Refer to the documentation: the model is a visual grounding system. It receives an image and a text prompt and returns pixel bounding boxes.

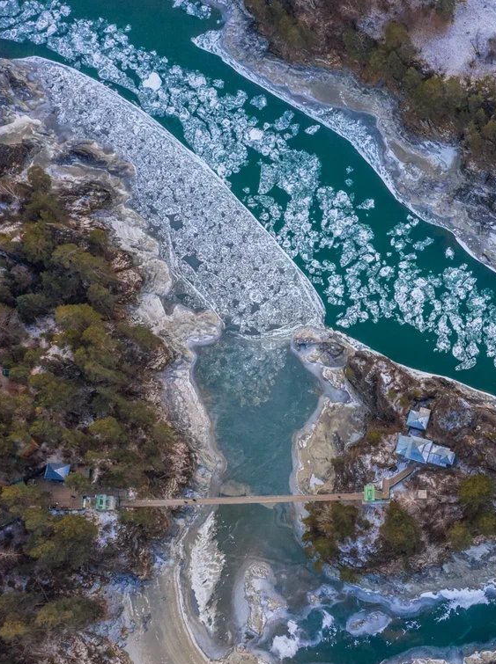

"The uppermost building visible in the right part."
[405,409,430,432]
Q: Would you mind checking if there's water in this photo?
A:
Yes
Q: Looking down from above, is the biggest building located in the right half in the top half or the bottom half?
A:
bottom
